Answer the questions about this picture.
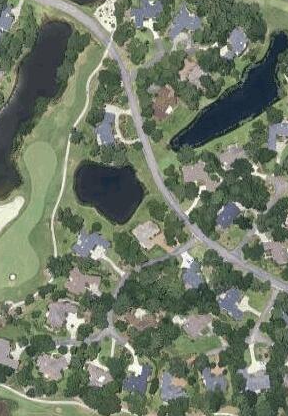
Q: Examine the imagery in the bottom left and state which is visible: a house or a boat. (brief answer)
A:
house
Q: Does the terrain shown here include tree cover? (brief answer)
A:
Yes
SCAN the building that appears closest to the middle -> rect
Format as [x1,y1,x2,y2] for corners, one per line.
[131,221,161,250]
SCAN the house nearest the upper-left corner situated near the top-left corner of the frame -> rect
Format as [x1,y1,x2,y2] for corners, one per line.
[0,8,20,43]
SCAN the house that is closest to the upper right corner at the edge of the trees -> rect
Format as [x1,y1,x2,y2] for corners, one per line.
[222,21,253,62]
